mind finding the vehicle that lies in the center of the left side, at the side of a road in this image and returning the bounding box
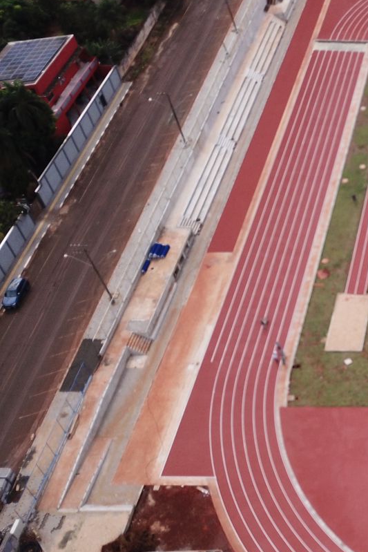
[1,281,29,309]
